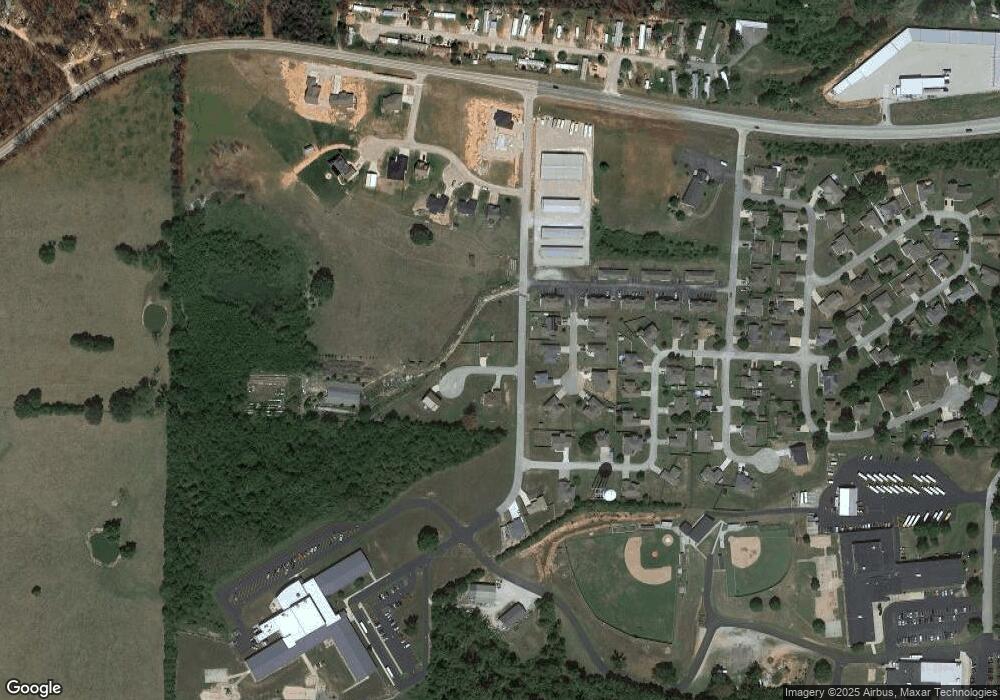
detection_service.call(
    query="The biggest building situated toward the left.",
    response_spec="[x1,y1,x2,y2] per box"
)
[248,548,377,684]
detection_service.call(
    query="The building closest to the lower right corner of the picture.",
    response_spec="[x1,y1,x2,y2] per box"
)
[885,659,962,700]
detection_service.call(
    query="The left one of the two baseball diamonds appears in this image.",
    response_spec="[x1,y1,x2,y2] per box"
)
[565,530,680,642]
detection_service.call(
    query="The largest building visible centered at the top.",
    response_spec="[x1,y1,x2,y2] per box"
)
[540,152,585,181]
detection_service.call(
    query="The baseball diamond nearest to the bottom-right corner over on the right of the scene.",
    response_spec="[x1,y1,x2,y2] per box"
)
[727,528,794,597]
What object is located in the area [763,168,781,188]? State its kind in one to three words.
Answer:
house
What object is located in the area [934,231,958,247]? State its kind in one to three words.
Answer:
house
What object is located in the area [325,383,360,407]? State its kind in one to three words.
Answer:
building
